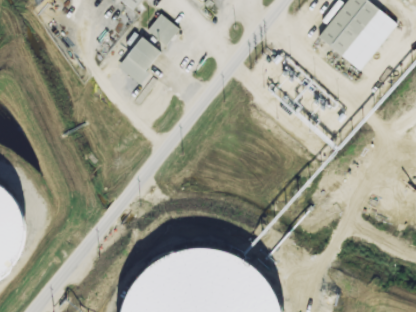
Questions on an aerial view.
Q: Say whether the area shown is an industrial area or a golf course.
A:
industrial area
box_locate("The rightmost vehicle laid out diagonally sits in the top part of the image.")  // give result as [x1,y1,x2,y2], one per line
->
[374,65,394,89]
